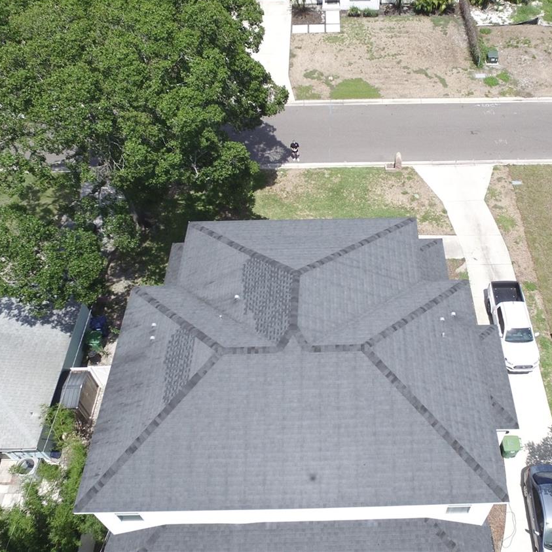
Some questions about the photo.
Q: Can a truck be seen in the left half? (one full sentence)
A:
No, in the left half there is no truck.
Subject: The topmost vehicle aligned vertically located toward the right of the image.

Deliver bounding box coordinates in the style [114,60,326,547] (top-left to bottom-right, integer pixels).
[487,283,544,380]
